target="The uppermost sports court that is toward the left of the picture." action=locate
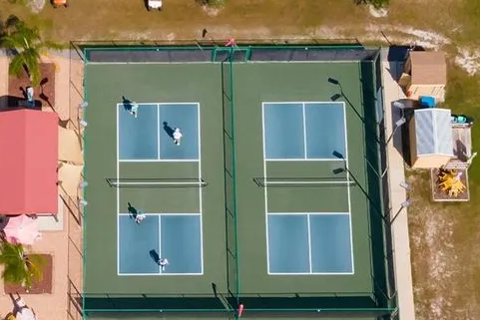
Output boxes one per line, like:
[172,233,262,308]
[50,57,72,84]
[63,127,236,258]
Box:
[84,60,237,312]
